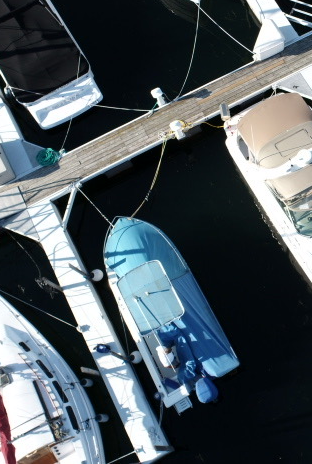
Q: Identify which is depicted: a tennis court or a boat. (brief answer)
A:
boat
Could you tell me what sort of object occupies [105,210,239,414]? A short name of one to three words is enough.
boat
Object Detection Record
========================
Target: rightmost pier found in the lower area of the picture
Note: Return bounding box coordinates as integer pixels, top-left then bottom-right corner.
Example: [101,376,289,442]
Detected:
[32,194,172,464]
